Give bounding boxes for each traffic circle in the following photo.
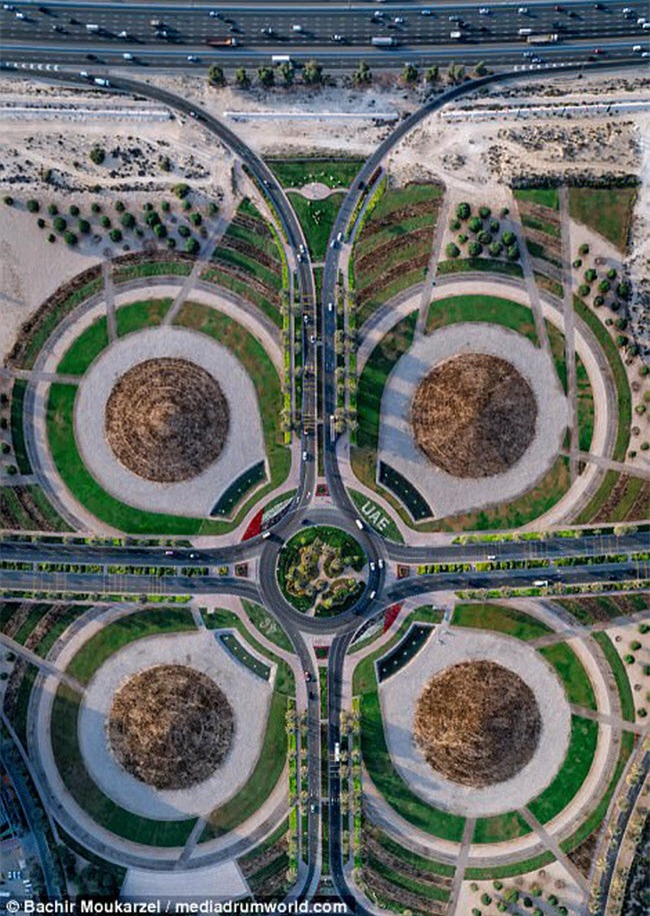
[205,455,445,691]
